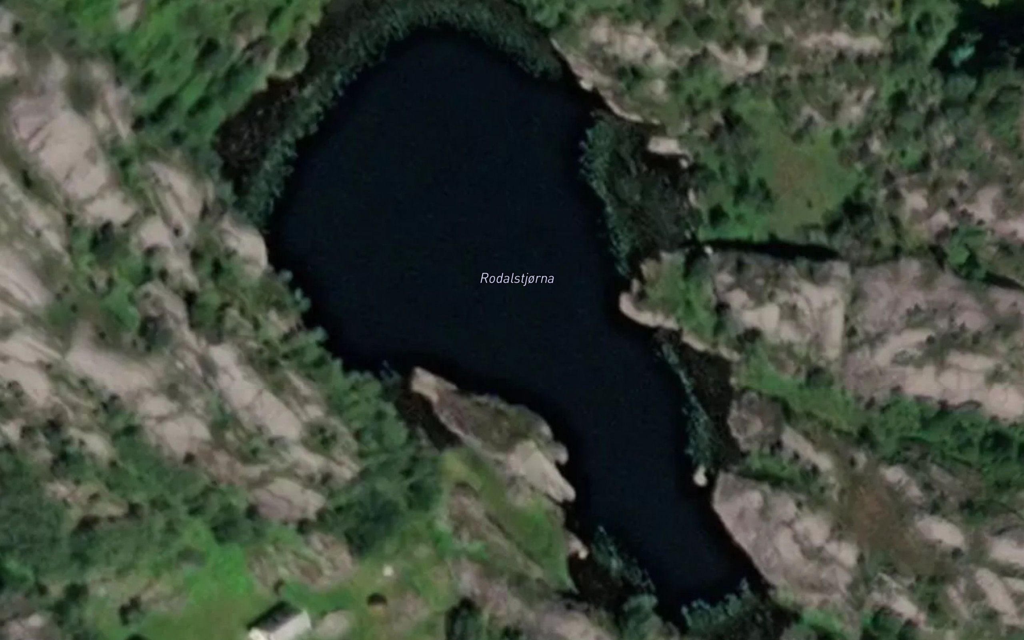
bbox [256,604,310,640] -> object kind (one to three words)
building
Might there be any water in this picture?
Yes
